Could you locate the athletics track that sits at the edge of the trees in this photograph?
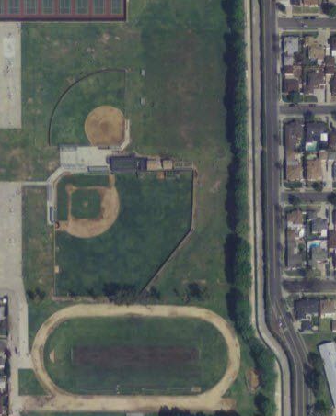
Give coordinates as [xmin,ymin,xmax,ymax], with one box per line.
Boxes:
[21,304,239,412]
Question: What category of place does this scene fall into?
sports ground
